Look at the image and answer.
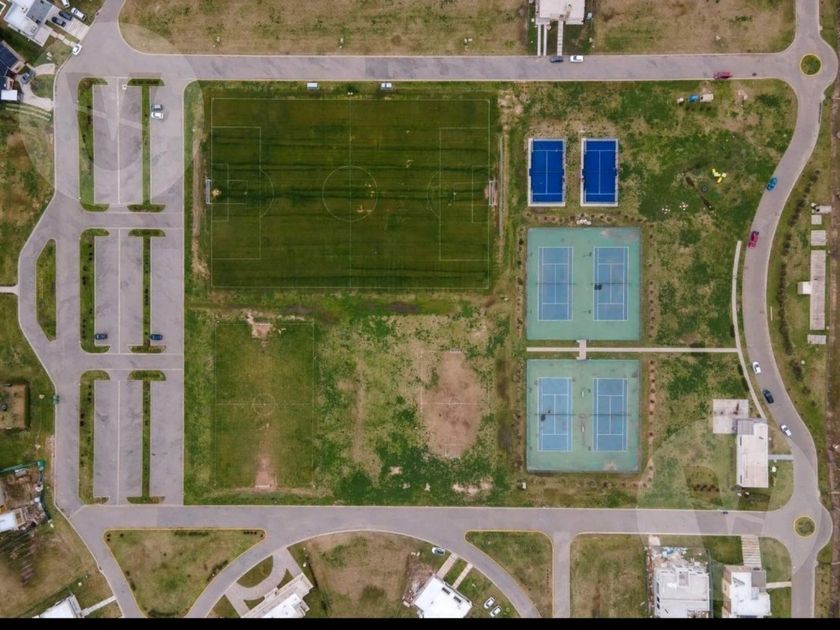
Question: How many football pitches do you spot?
3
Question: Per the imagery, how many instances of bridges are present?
none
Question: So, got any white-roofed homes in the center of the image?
No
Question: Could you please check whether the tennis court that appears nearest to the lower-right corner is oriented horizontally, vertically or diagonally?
vertically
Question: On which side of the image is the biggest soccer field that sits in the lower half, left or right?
left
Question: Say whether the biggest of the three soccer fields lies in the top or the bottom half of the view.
top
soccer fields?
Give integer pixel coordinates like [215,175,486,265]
[205,93,495,291]
[210,318,318,491]
[416,349,492,461]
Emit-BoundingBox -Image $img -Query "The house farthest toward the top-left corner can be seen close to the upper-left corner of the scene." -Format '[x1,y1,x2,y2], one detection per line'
[4,0,57,49]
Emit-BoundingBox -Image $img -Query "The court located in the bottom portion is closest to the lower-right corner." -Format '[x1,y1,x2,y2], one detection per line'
[593,378,632,452]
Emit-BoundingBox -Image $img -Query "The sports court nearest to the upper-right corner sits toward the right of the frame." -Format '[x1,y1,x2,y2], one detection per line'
[581,138,619,207]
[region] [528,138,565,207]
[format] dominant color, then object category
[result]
blue sports court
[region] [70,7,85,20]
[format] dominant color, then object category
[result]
white vehicle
